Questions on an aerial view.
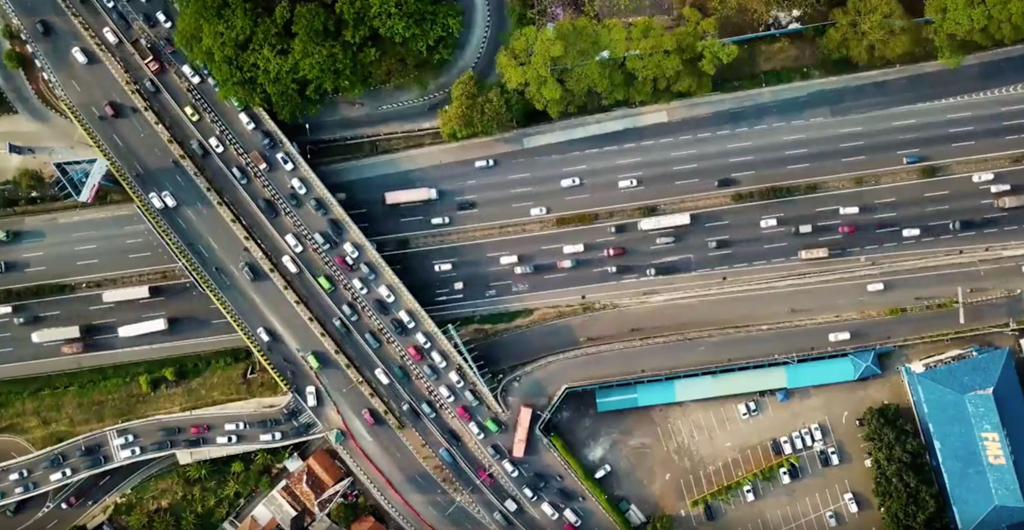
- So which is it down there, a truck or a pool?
truck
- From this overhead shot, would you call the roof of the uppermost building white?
No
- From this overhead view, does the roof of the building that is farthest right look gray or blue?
blue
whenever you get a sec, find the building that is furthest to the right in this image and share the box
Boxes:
[900,346,1024,530]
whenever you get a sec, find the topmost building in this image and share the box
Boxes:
[843,347,894,381]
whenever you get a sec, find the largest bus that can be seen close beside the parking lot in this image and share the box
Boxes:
[510,403,534,460]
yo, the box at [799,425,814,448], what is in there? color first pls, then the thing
white car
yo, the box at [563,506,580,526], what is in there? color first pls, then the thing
white vehicle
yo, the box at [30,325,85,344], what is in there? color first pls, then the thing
white vehicle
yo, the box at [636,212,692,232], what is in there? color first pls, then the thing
white bus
